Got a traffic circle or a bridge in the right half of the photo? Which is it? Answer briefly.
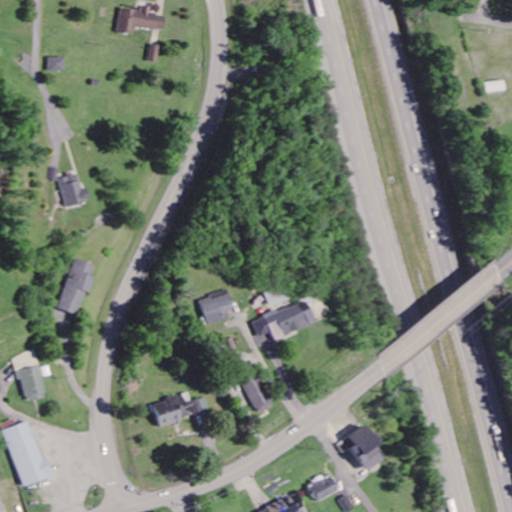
bridge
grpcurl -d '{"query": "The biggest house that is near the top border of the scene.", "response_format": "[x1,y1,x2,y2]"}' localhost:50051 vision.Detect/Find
[116,6,165,34]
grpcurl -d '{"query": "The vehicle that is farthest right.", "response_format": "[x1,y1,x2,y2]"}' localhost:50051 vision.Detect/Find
[492,428,508,462]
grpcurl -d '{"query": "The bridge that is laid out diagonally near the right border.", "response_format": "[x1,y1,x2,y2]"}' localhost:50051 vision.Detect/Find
[378,260,508,376]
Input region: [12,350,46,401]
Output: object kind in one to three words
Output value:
building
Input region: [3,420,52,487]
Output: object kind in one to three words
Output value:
barn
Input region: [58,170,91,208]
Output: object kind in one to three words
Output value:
house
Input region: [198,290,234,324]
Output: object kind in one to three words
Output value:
house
